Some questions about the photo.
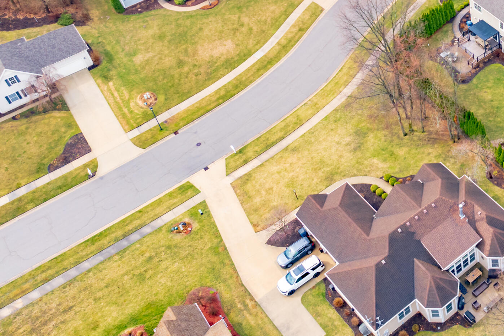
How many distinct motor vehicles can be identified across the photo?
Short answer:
2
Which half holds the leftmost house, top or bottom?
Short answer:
top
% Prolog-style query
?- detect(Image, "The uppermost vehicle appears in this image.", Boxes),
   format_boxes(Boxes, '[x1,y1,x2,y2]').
[275,235,318,273]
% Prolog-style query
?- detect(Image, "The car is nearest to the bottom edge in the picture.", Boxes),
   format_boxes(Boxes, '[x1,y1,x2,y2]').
[278,256,325,297]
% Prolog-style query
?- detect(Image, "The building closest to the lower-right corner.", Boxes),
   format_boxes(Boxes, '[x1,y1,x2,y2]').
[291,156,504,336]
